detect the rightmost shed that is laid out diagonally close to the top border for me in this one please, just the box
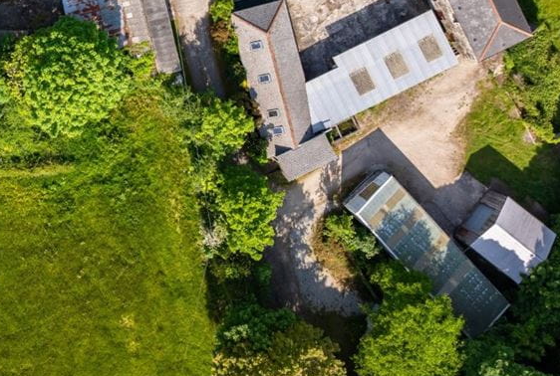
[303,9,458,132]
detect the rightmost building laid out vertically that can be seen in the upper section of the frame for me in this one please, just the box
[230,0,314,159]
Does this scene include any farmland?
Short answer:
Yes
